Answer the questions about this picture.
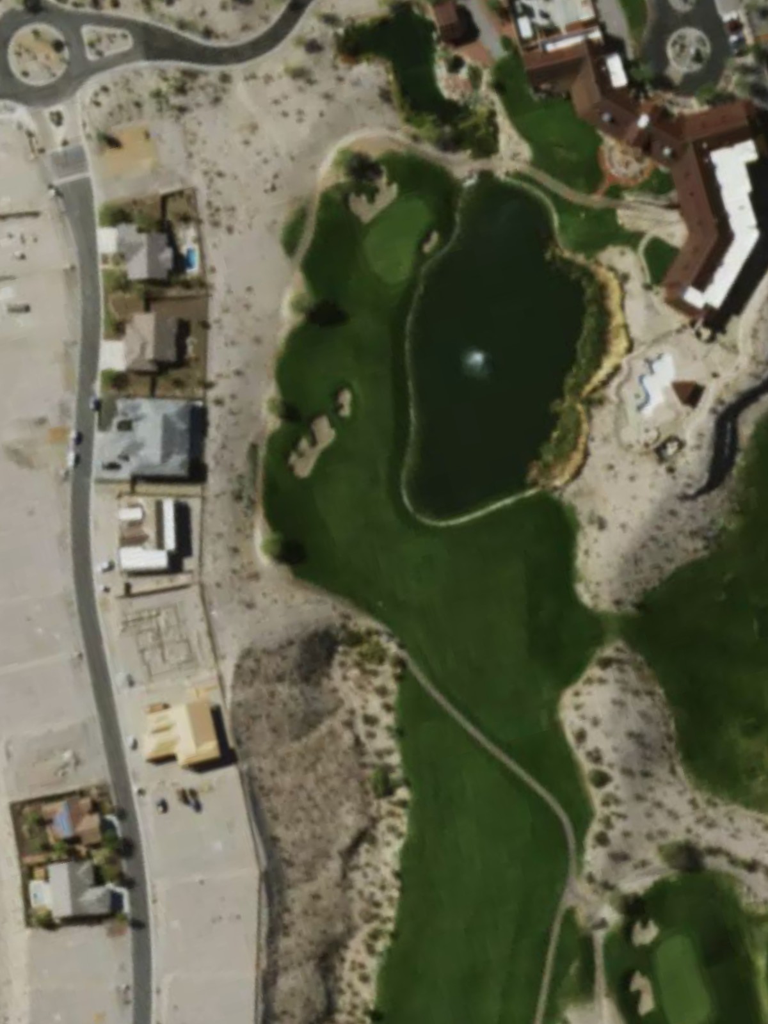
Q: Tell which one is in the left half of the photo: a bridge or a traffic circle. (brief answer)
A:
traffic circle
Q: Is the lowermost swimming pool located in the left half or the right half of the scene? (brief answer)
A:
left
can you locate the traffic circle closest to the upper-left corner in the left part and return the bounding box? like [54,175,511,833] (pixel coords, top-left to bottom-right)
[0,5,88,104]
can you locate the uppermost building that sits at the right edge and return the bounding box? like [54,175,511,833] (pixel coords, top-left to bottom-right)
[511,0,759,318]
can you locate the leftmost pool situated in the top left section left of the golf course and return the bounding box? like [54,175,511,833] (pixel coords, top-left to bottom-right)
[178,242,200,273]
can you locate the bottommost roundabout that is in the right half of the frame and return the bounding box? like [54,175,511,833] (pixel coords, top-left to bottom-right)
[666,26,712,84]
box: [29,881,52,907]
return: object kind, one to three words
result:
swimming pool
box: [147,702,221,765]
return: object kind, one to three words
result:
house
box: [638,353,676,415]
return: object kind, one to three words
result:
swimming pool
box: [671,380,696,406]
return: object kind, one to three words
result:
building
